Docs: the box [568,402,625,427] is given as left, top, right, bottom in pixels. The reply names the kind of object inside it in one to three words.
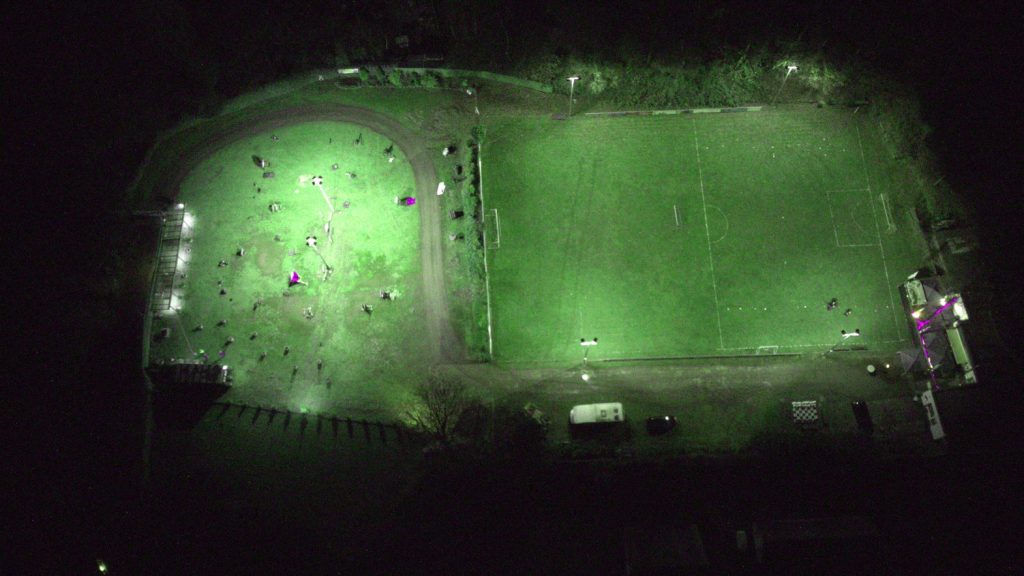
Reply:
vehicle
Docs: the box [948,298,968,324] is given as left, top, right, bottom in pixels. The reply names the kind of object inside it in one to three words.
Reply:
building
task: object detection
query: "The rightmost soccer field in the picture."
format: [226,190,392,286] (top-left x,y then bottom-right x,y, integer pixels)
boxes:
[482,107,906,364]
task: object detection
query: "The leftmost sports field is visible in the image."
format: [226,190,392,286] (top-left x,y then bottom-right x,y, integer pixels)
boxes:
[148,122,469,436]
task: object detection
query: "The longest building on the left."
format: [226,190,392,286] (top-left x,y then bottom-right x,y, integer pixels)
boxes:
[148,365,234,389]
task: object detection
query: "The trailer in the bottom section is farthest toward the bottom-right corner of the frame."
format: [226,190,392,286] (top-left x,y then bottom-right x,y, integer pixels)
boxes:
[923,385,950,436]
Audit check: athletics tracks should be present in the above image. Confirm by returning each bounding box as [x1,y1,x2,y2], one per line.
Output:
[160,100,449,367]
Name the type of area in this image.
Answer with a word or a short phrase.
sports ground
